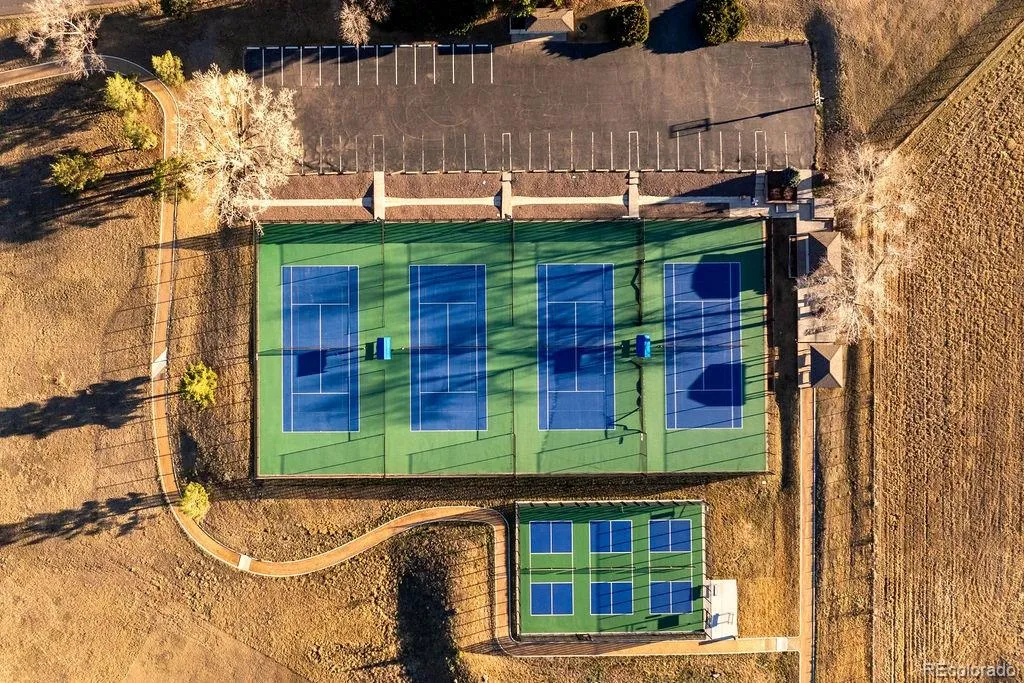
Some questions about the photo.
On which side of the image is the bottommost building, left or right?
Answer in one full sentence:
The bottommost building appears in the right half of the scene.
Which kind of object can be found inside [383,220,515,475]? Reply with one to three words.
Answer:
tennis court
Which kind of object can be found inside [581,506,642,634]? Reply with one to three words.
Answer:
sports court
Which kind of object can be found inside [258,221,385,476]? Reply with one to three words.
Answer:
tennis court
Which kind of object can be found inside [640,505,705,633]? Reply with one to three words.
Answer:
sports court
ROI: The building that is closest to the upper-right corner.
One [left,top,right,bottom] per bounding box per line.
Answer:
[781,231,841,278]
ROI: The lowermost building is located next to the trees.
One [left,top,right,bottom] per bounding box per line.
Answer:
[806,344,843,388]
